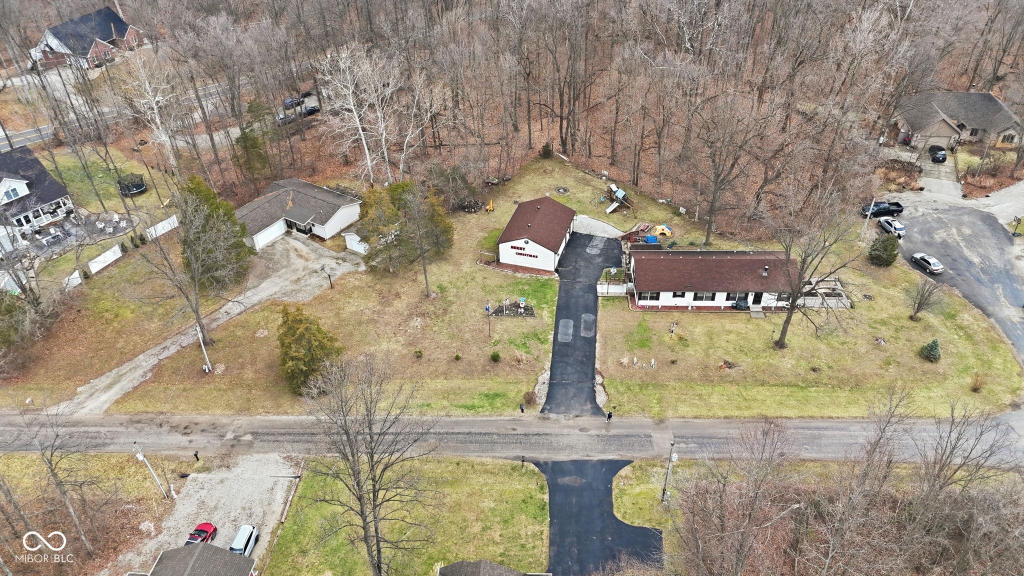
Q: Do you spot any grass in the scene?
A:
Yes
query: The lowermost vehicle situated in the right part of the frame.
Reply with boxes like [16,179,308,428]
[909,250,950,275]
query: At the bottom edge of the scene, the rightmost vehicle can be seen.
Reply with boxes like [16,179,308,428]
[233,523,271,559]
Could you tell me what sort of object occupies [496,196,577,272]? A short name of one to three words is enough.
building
